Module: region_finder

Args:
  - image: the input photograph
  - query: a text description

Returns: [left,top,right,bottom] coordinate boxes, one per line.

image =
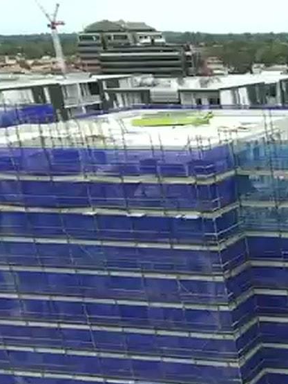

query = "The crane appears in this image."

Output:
[35,0,70,83]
